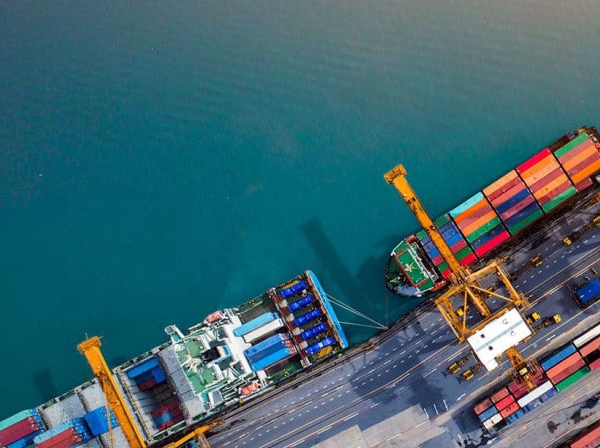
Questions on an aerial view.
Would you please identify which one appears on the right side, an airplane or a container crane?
container crane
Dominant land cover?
water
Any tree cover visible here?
No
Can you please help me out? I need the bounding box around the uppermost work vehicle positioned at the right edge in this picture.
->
[559,213,600,246]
